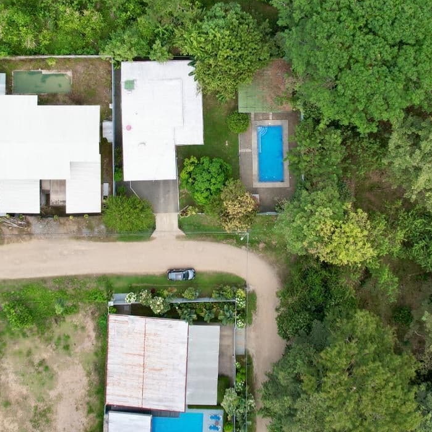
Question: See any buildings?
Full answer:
Yes, there's a building down there.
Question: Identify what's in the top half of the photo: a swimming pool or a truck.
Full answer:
Visible in the top half of the photo is a swimming pool.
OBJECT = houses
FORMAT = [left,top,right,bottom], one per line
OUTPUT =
[106,313,220,432]
[121,60,203,182]
[0,73,102,217]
